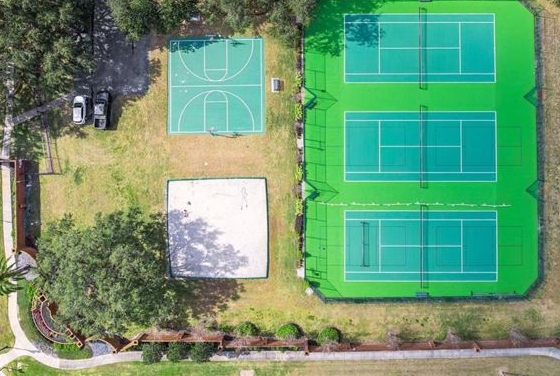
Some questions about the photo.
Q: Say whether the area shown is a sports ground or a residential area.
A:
sports ground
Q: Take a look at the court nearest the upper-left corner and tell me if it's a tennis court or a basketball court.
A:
basketball court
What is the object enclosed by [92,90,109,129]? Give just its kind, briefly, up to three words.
vehicle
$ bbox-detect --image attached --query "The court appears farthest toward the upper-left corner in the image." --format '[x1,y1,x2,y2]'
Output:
[168,36,266,134]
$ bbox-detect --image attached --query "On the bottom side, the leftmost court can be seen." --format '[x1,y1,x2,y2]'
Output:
[168,178,269,279]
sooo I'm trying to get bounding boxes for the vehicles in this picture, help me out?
[71,96,87,124]
[92,90,109,129]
